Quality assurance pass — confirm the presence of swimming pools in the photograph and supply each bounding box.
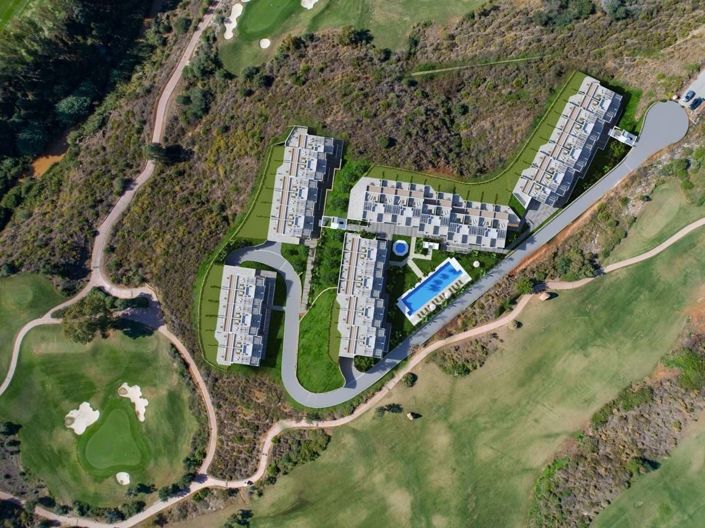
[393,240,408,254]
[397,257,470,325]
